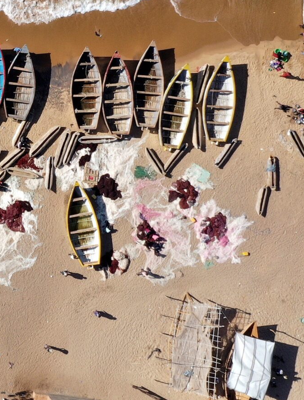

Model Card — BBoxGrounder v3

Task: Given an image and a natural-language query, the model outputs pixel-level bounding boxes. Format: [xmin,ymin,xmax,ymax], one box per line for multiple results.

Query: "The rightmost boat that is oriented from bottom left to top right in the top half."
[214,138,237,168]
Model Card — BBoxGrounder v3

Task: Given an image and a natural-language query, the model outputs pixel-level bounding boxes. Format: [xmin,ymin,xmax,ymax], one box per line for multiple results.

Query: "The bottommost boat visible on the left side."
[65,181,101,269]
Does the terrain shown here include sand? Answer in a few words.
Yes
